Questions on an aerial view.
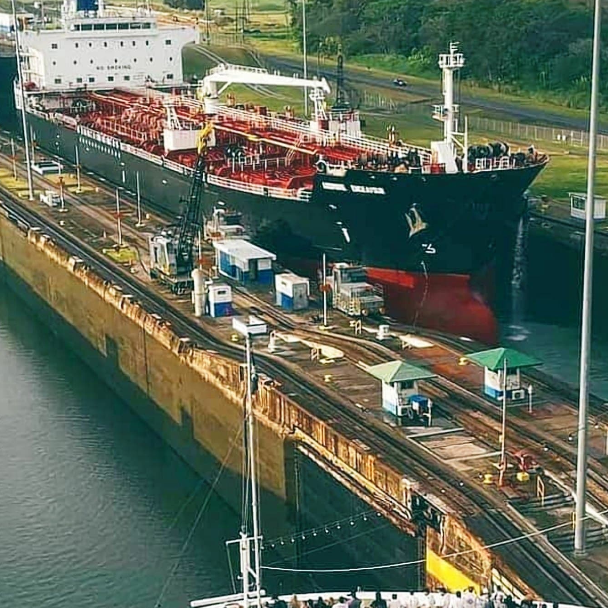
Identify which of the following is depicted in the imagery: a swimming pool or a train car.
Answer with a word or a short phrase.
train car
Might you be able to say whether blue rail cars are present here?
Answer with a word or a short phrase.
No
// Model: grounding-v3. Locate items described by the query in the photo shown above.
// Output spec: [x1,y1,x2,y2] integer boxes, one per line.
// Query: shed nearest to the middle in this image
[276,277,308,311]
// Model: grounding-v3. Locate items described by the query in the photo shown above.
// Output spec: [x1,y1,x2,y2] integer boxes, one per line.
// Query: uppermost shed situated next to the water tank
[215,233,262,282]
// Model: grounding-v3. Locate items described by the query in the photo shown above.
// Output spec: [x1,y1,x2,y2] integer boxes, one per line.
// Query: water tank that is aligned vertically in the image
[189,275,208,316]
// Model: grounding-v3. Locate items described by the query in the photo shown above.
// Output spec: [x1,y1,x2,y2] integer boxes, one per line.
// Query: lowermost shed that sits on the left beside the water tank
[208,287,233,319]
